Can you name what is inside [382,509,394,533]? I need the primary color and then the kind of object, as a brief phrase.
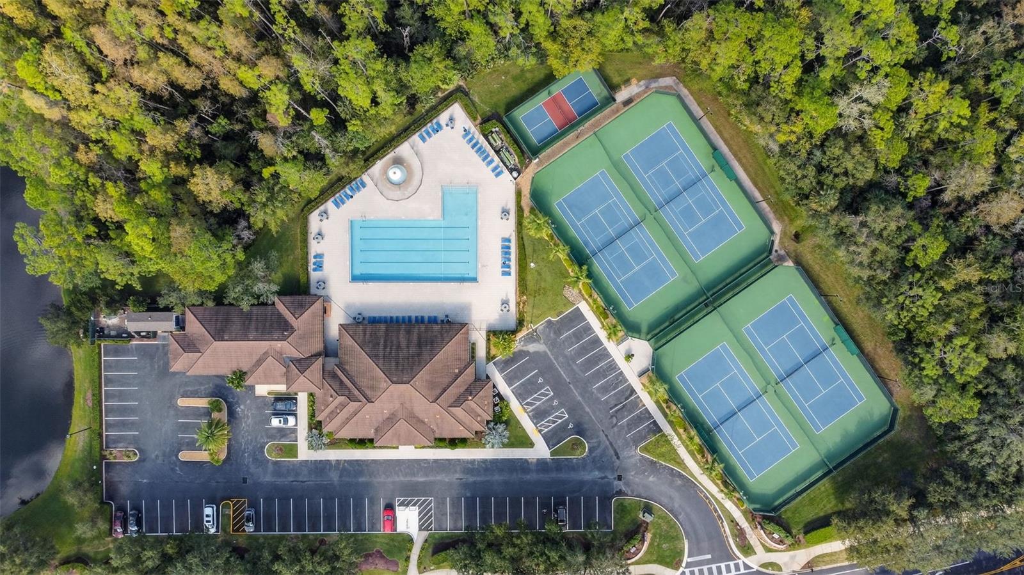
red vehicle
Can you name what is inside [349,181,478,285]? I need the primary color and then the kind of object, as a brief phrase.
blue swimming pool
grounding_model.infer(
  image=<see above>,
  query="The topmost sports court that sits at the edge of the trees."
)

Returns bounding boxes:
[508,70,614,154]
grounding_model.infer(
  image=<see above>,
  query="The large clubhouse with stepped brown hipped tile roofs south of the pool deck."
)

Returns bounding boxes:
[316,323,492,446]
